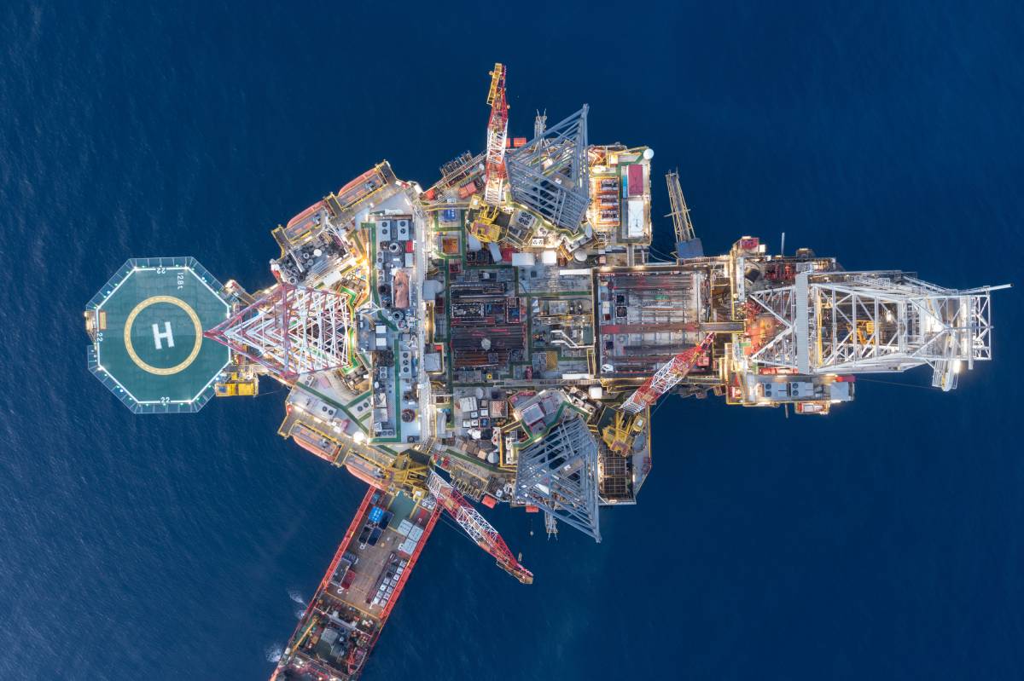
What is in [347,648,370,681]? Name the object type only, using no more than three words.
boat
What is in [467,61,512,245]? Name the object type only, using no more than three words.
crane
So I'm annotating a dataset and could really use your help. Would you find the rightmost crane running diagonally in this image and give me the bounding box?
[597,329,718,455]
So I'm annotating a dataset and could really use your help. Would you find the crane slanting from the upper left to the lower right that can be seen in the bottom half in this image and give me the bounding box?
[387,448,534,585]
